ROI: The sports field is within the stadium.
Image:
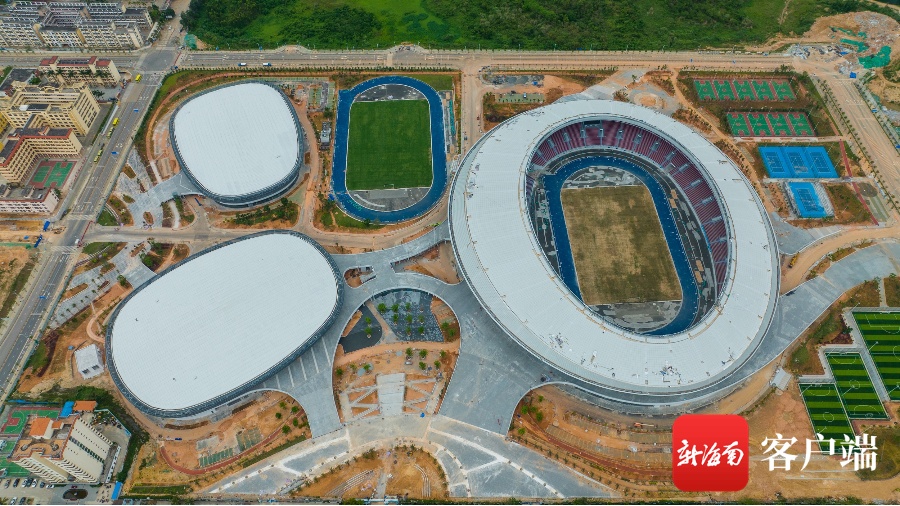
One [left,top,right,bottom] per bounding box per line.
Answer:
[562,186,682,302]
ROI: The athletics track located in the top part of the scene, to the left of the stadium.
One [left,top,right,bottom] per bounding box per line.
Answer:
[330,76,446,222]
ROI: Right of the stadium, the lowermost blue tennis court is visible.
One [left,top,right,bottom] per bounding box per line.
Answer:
[788,182,827,217]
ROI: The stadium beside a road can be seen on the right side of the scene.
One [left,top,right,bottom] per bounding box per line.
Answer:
[448,99,780,400]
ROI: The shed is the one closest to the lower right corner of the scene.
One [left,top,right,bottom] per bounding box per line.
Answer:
[768,367,793,394]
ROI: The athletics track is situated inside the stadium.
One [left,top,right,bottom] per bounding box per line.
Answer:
[542,155,703,337]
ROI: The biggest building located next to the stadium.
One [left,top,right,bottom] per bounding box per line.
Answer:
[105,230,343,418]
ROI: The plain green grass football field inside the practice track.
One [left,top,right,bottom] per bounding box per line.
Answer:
[346,99,432,189]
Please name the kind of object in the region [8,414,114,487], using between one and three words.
building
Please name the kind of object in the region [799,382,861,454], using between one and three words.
soccer field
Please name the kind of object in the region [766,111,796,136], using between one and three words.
basketball court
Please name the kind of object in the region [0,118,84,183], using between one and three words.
building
